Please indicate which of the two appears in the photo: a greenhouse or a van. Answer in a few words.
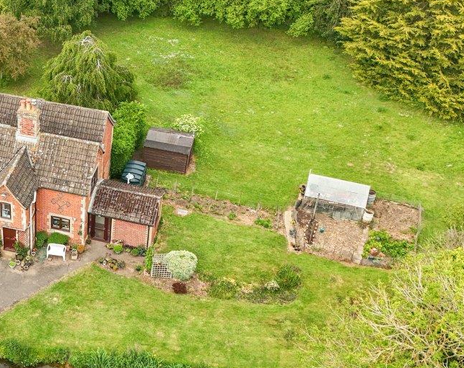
greenhouse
